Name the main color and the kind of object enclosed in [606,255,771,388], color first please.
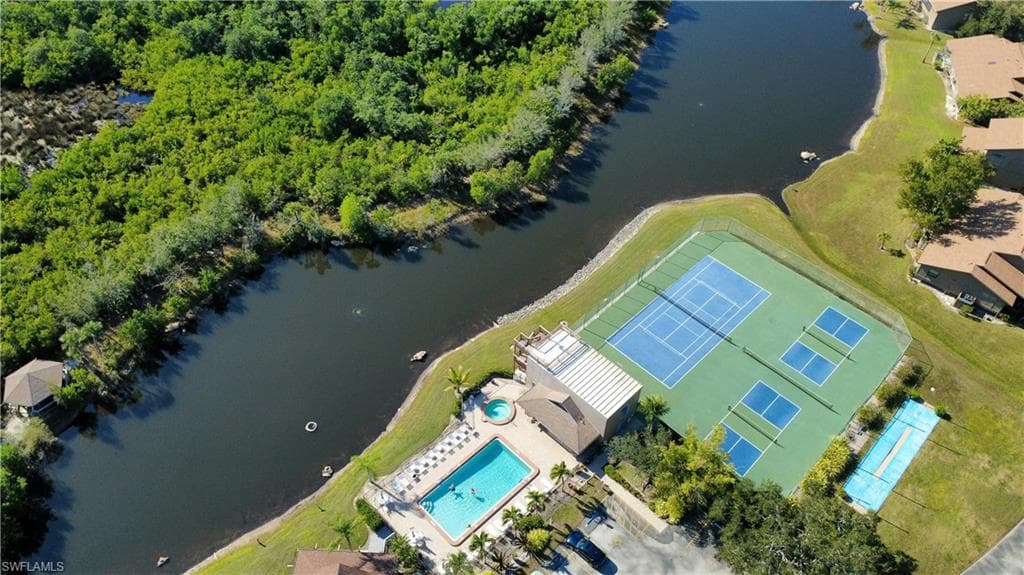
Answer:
blue tennis court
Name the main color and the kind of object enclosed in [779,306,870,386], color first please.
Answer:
blue sports court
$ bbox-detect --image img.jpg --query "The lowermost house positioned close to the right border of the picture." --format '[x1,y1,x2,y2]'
[921,189,1024,314]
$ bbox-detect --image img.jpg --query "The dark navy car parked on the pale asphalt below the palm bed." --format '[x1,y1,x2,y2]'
[561,536,607,574]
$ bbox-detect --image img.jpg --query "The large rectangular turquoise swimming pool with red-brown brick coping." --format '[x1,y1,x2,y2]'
[419,436,536,543]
